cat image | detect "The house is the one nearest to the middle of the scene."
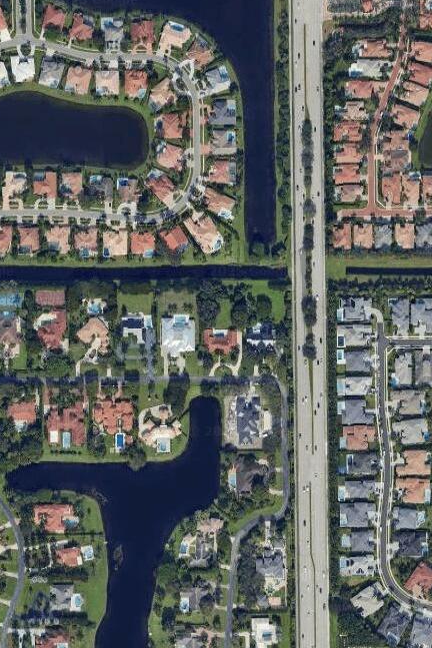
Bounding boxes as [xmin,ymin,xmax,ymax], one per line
[204,326,240,353]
